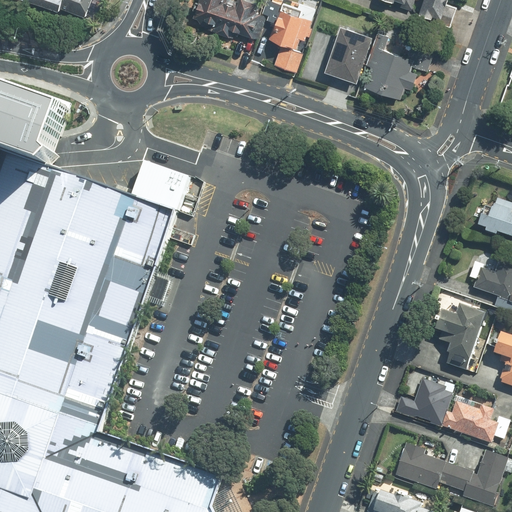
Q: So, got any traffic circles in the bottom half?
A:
No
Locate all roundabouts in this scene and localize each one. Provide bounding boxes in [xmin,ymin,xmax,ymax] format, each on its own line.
[111,55,148,92]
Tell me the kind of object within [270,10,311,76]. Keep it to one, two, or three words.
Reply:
house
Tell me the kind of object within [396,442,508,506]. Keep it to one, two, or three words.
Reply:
house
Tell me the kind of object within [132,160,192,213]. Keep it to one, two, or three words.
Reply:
building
